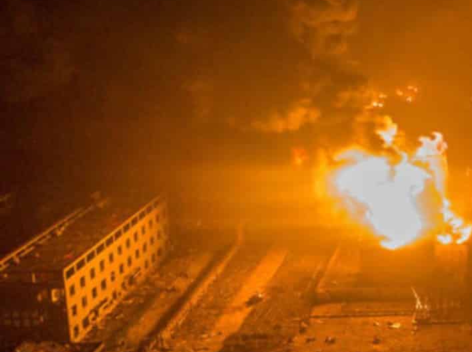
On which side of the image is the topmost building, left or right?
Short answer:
left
